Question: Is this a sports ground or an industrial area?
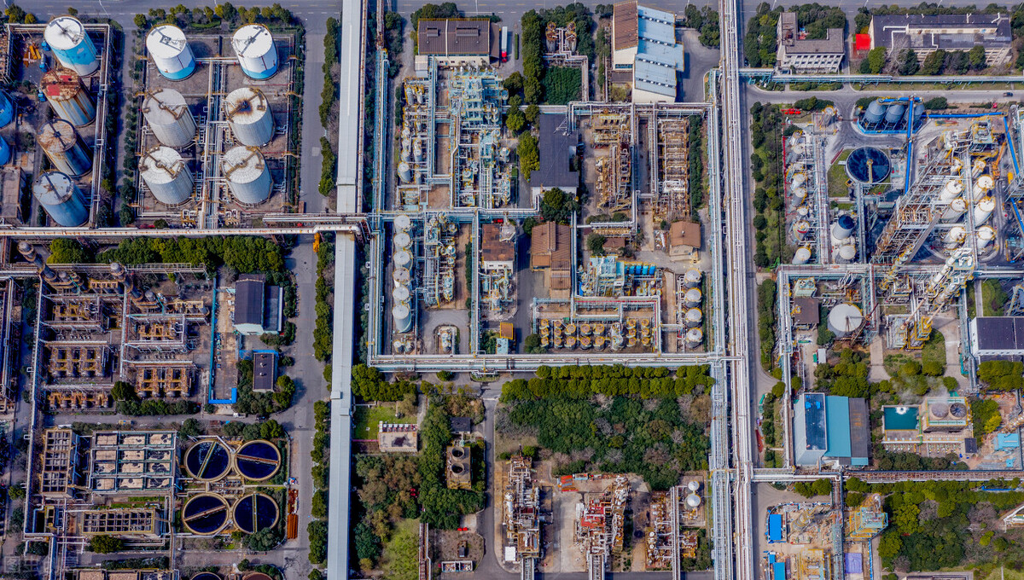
industrial area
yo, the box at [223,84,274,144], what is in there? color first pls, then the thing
white storage tank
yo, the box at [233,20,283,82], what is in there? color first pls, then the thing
white storage tank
